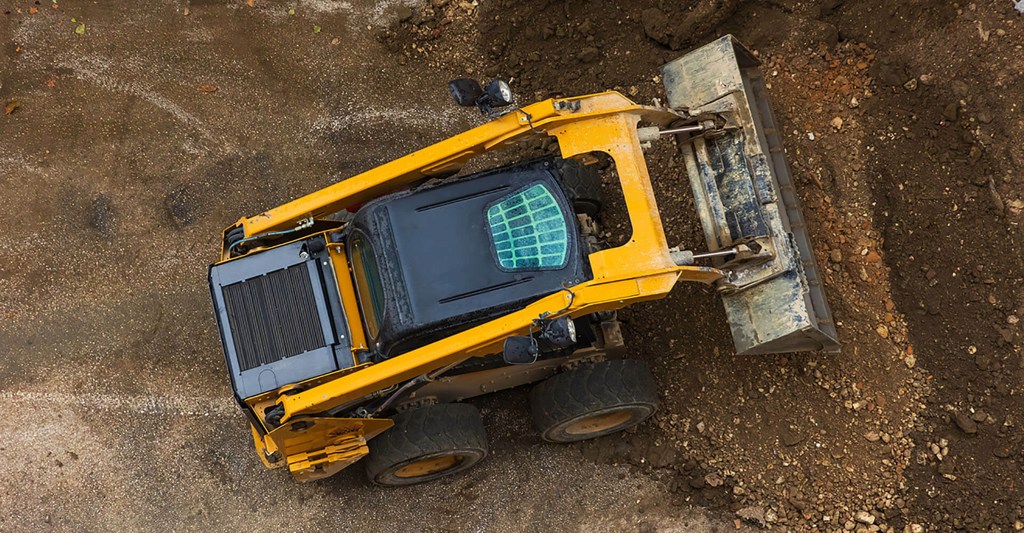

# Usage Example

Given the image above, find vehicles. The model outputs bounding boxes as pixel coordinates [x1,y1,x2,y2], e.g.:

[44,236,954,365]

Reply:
[206,33,845,484]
